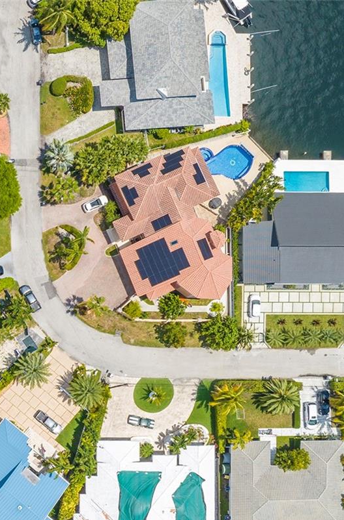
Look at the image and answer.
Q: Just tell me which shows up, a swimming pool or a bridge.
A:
swimming pool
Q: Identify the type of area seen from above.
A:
residential area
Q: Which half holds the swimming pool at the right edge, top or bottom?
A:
top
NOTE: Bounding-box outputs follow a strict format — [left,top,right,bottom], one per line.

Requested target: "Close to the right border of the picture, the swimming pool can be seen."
[283,171,330,191]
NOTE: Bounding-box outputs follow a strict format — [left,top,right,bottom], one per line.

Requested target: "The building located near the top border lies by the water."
[98,0,215,134]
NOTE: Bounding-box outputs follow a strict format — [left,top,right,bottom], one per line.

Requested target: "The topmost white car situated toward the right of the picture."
[247,292,262,319]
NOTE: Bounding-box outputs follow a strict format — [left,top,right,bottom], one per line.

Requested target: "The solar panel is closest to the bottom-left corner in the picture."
[134,237,190,285]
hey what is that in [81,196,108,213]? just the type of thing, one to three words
car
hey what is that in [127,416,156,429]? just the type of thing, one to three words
vehicle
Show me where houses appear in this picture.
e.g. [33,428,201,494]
[0,418,68,520]
[72,440,215,520]
[226,441,344,520]
[259,192,344,284]
[98,0,215,134]
[109,145,230,300]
